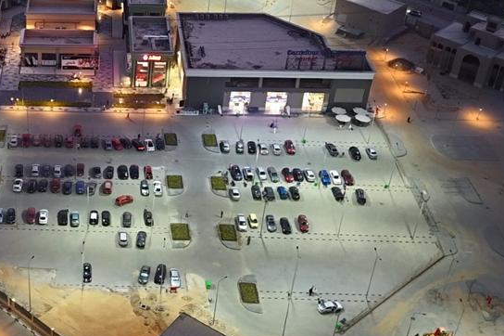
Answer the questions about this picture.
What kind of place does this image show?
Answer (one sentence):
It's a parking lot.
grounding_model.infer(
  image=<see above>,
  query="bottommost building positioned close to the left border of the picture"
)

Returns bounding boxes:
[19,29,100,76]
